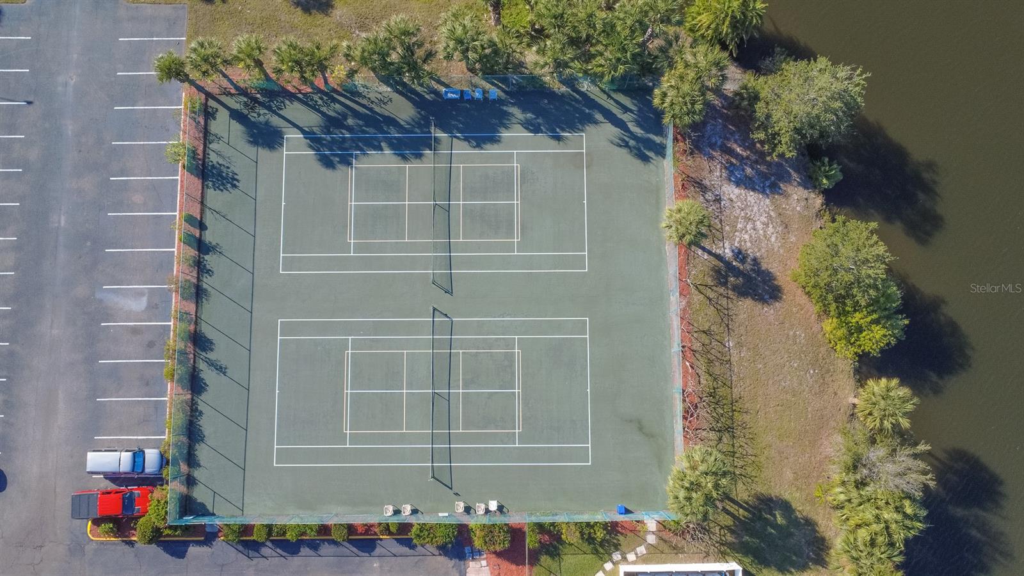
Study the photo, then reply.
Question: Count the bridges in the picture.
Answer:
0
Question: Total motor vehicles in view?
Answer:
2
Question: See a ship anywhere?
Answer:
No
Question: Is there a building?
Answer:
No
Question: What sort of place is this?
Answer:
sports ground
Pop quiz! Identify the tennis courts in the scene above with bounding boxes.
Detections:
[197,92,670,297]
[188,294,677,515]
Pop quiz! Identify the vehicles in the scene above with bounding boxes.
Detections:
[89,445,168,475]
[74,489,162,523]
